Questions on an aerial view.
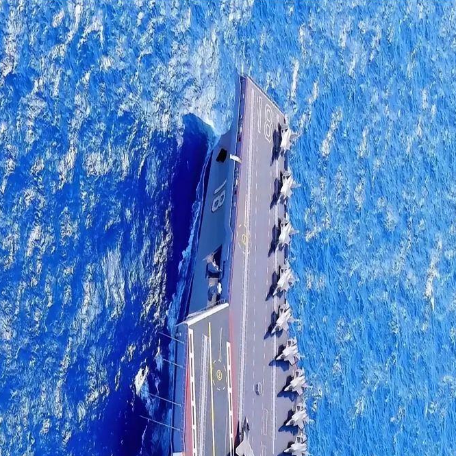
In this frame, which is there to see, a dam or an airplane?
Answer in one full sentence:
It is an airplane that can be seen here.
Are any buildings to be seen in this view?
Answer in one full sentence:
No, the picture doesn't show any building.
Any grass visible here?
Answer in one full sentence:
No, there is no grass in the image.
